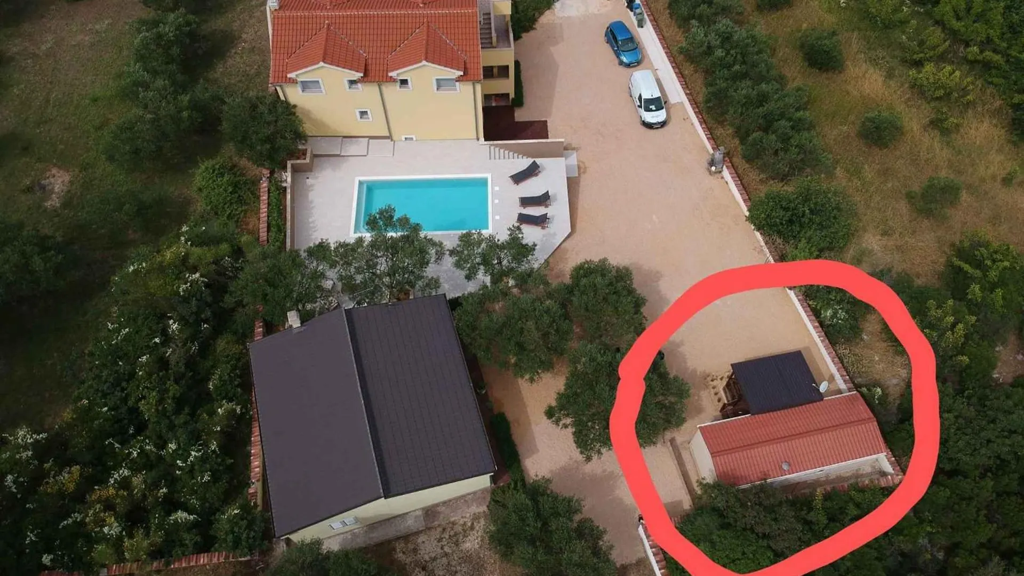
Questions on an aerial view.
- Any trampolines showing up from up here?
No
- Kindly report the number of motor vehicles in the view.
2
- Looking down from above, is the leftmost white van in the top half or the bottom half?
top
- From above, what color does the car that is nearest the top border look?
blue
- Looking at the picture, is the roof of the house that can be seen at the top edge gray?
No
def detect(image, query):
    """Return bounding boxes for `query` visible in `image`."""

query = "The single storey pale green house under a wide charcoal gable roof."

[248,294,499,542]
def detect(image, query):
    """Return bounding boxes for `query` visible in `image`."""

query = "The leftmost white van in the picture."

[628,63,669,127]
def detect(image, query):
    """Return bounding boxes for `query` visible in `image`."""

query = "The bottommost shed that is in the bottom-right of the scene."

[689,392,883,498]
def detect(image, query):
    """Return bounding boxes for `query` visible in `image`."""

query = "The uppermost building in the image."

[270,0,516,142]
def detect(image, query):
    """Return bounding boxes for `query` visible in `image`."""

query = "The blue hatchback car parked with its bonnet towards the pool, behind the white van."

[603,18,643,66]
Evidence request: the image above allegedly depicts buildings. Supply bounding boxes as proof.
[689,392,883,498]
[270,0,516,142]
[248,294,499,542]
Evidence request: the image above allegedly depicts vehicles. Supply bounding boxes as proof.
[628,63,669,127]
[603,18,643,66]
